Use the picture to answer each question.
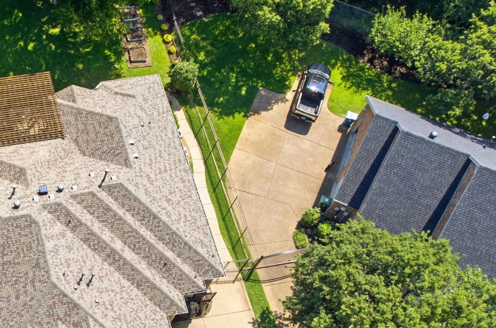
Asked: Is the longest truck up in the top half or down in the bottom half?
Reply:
top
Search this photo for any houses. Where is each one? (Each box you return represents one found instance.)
[0,72,225,328]
[323,95,496,322]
